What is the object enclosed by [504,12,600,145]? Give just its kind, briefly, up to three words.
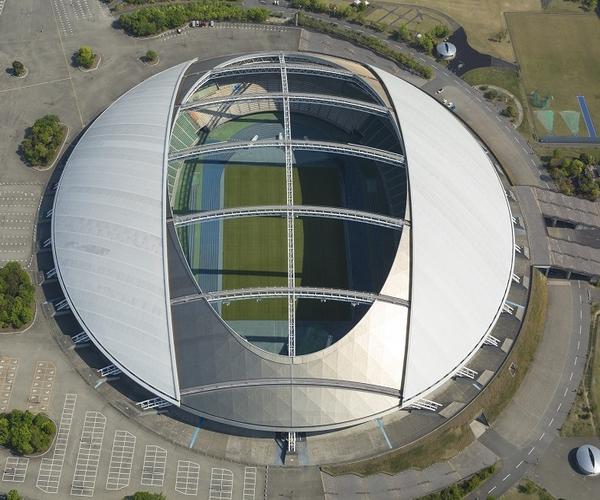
sports field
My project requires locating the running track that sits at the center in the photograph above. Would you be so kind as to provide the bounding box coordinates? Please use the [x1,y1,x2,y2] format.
[200,123,370,351]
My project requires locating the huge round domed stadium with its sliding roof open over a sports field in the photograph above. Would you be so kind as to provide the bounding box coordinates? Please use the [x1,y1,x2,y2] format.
[35,47,535,465]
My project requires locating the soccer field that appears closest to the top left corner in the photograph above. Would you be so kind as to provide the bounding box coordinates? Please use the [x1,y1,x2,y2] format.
[222,138,349,353]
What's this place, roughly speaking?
sports ground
